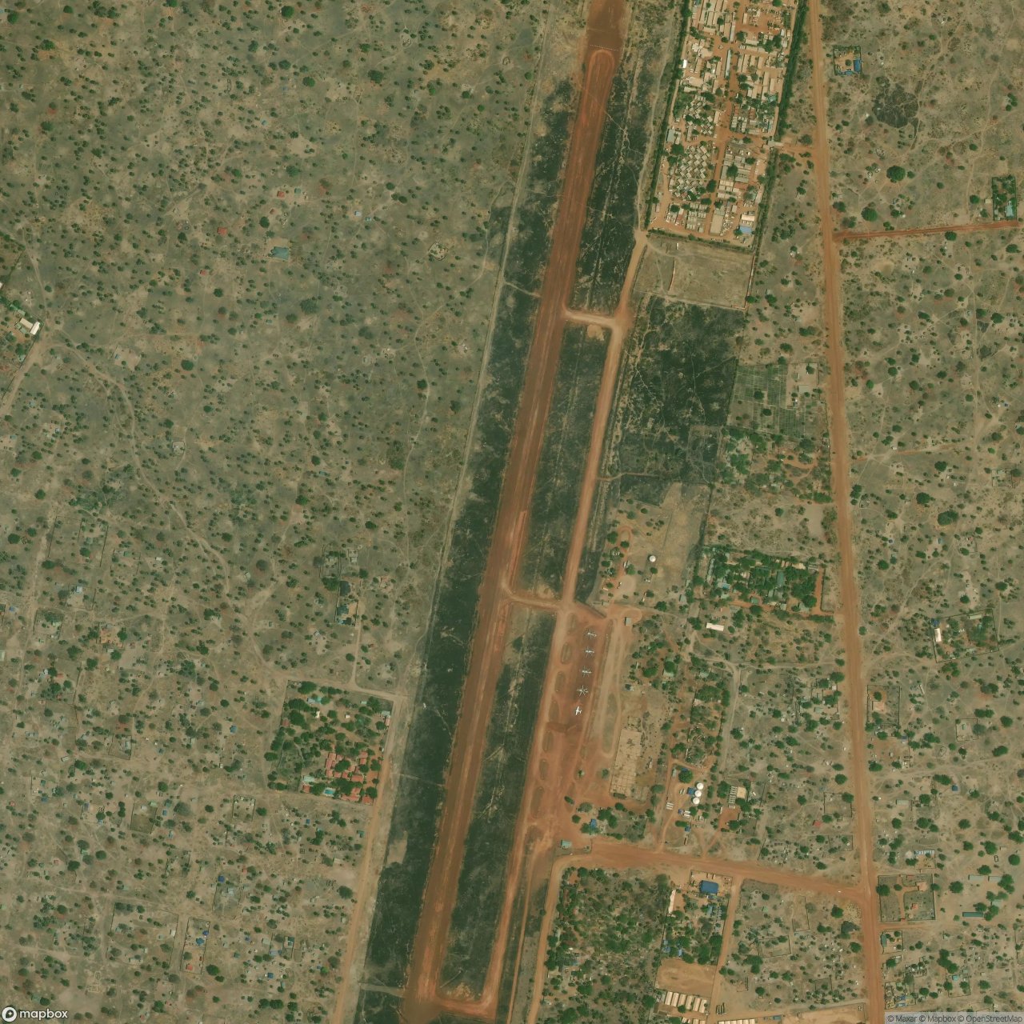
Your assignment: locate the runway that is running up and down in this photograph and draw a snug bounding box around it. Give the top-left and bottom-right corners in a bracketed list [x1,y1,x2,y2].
[401,0,622,1024]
